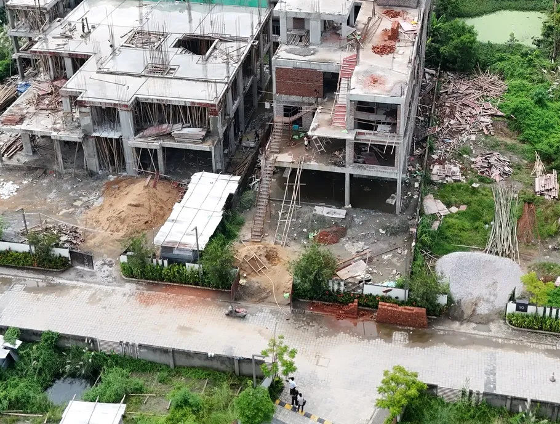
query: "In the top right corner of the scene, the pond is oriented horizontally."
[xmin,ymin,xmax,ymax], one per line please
[458,9,550,44]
